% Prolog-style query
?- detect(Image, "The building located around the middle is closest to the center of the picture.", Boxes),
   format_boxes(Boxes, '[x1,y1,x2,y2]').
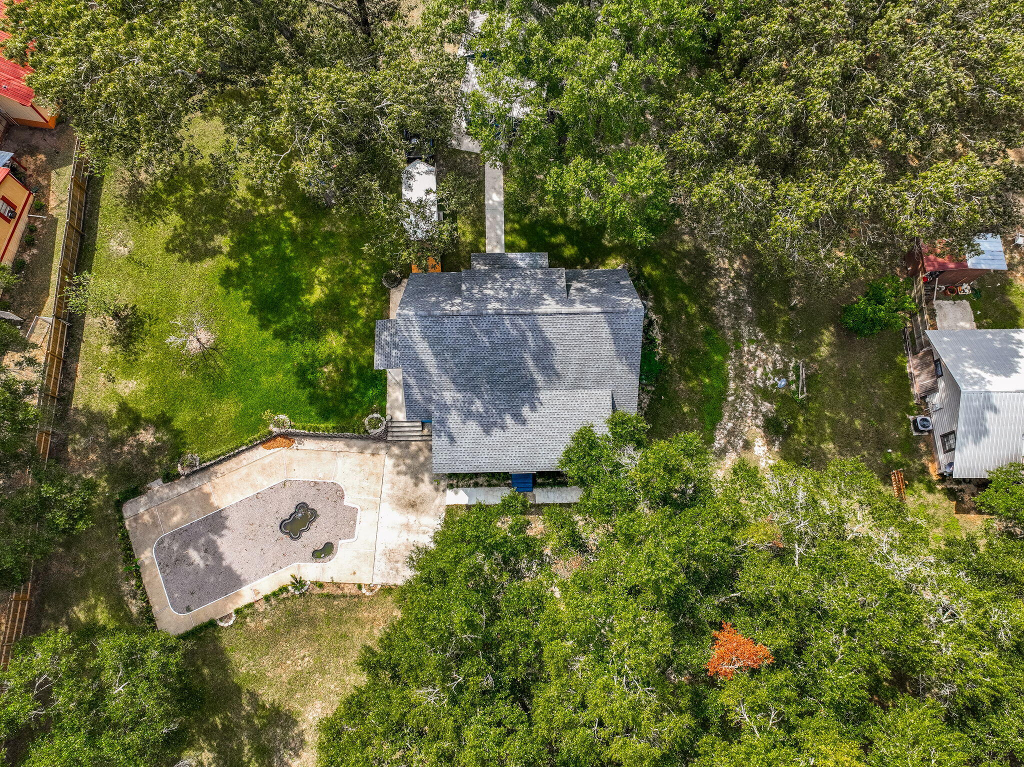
[373,253,648,500]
